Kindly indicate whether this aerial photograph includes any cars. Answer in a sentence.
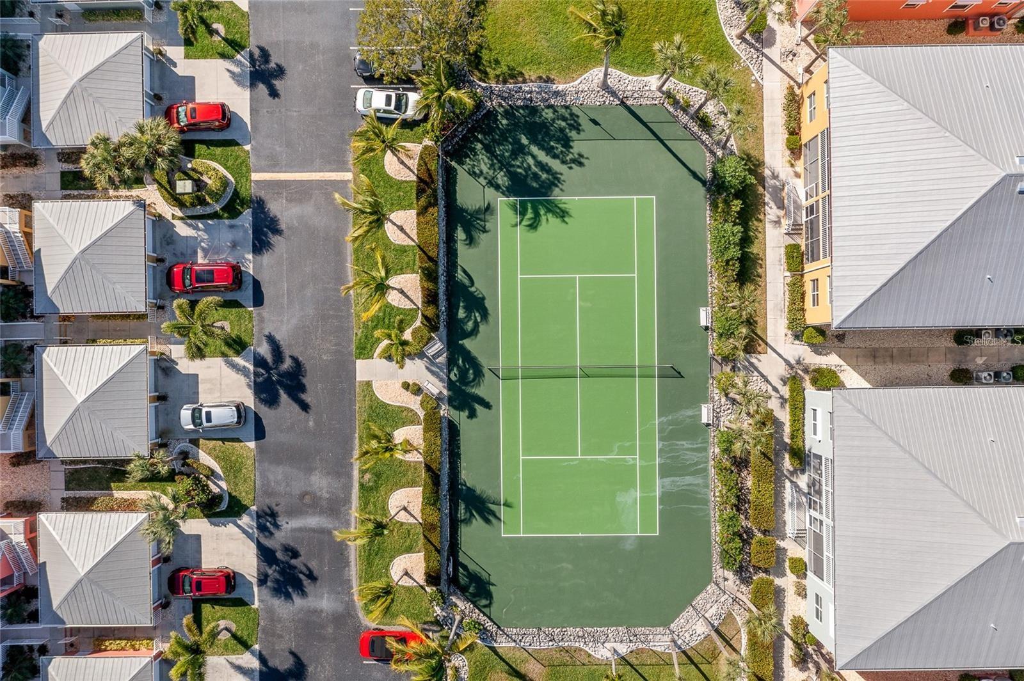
Yes, there's a car down there.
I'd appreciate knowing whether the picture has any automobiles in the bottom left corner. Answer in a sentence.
Yes, an automobile shows up in the bottom left corner.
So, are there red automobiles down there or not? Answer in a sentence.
Yes, the picture does show a red automobile.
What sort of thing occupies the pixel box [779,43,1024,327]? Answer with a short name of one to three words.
building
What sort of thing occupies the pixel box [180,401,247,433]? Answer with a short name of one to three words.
car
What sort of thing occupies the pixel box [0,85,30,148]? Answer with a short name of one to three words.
house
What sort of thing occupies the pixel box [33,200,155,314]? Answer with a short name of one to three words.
building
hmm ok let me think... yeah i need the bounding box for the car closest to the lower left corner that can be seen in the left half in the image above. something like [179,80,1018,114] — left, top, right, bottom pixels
[168,566,237,600]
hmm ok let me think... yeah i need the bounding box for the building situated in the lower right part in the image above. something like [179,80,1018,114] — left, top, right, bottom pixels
[781,385,1024,669]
